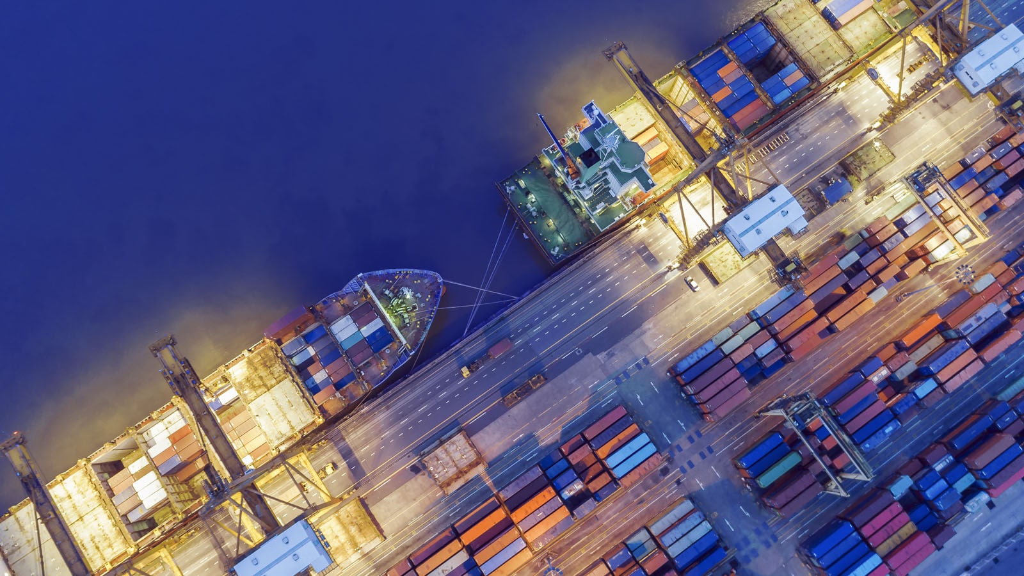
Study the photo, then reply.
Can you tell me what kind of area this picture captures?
port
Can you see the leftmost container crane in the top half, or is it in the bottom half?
bottom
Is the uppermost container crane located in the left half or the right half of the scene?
right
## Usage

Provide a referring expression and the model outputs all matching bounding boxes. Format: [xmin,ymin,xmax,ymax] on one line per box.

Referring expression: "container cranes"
[145,331,375,576]
[754,386,879,499]
[867,159,998,274]
[603,37,808,285]
[0,430,236,576]
[799,0,1024,158]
